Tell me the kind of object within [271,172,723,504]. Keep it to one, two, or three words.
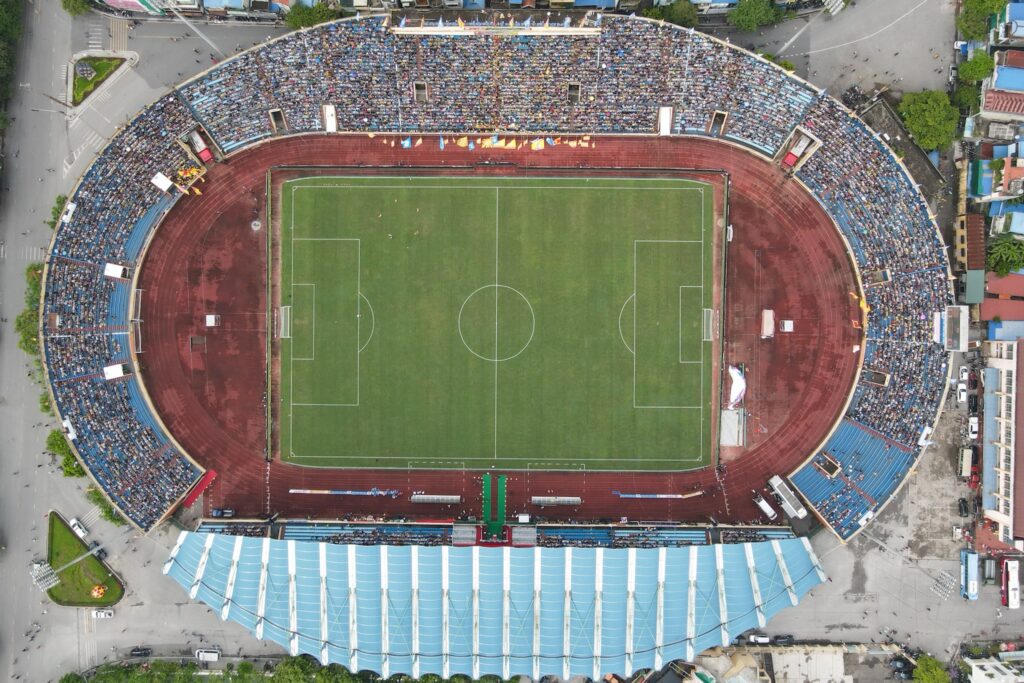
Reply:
soccer field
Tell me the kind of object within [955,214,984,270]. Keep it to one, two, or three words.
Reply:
house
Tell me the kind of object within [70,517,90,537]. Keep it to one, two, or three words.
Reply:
car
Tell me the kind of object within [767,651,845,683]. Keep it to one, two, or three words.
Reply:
building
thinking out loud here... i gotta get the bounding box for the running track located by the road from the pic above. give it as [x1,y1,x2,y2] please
[135,135,863,550]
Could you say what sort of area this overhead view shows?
sports ground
